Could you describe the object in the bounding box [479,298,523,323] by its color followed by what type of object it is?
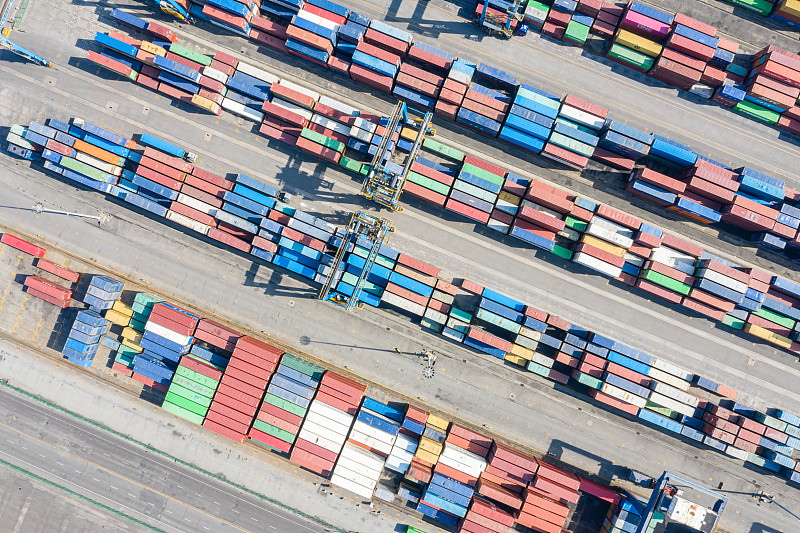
blue shipping container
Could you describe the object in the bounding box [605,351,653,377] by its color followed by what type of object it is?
blue shipping container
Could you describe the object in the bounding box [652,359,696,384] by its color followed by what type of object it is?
white shipping container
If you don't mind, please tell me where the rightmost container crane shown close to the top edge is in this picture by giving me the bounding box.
[466,0,523,41]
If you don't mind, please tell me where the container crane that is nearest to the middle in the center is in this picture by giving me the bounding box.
[312,205,405,319]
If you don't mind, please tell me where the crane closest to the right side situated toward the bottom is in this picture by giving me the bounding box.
[613,467,731,533]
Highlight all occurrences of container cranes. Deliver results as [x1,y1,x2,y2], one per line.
[312,205,405,319]
[0,0,61,70]
[359,97,443,215]
[466,0,523,41]
[613,467,731,533]
[145,0,197,29]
